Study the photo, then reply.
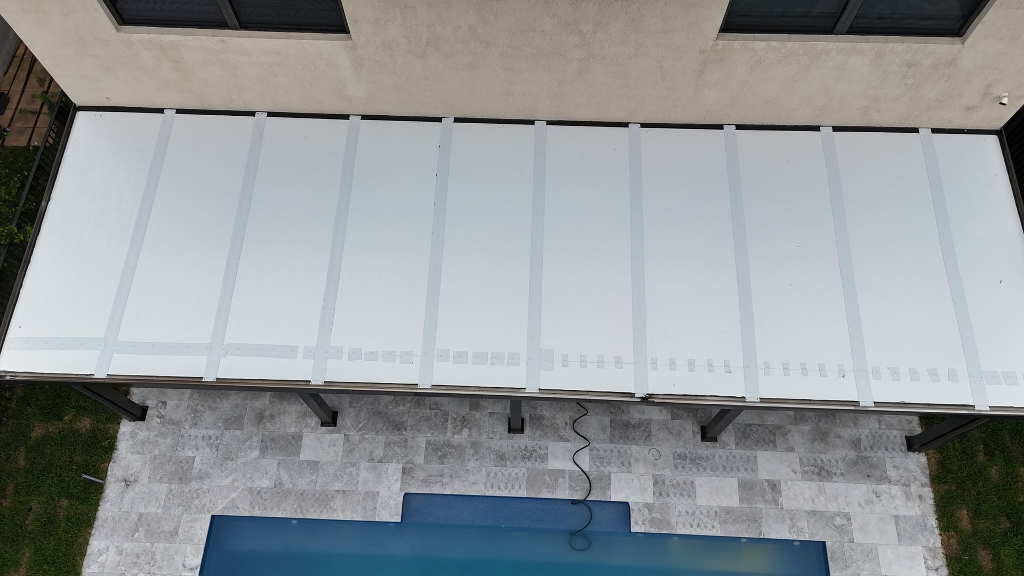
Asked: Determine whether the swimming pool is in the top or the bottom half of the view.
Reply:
bottom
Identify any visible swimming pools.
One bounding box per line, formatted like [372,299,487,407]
[201,493,829,576]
